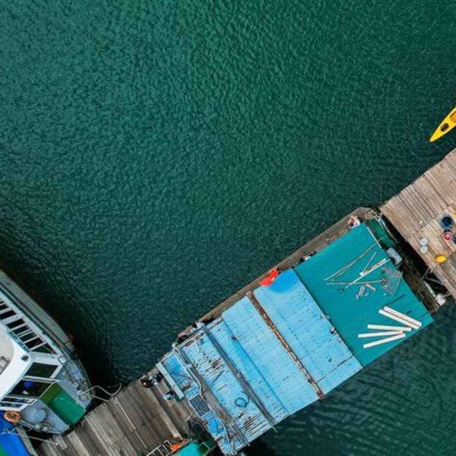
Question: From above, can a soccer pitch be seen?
No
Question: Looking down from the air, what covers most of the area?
water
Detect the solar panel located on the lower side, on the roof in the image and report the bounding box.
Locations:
[191,393,209,417]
